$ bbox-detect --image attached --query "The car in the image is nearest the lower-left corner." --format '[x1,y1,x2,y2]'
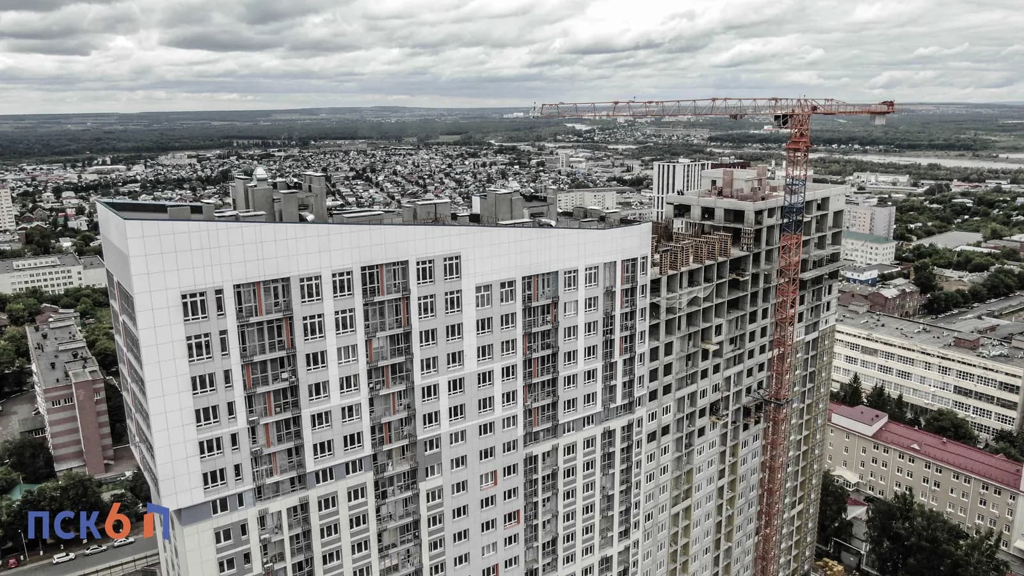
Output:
[3,554,22,569]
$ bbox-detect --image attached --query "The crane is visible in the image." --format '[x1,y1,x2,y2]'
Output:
[534,85,901,576]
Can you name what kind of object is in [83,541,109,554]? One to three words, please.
vehicle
